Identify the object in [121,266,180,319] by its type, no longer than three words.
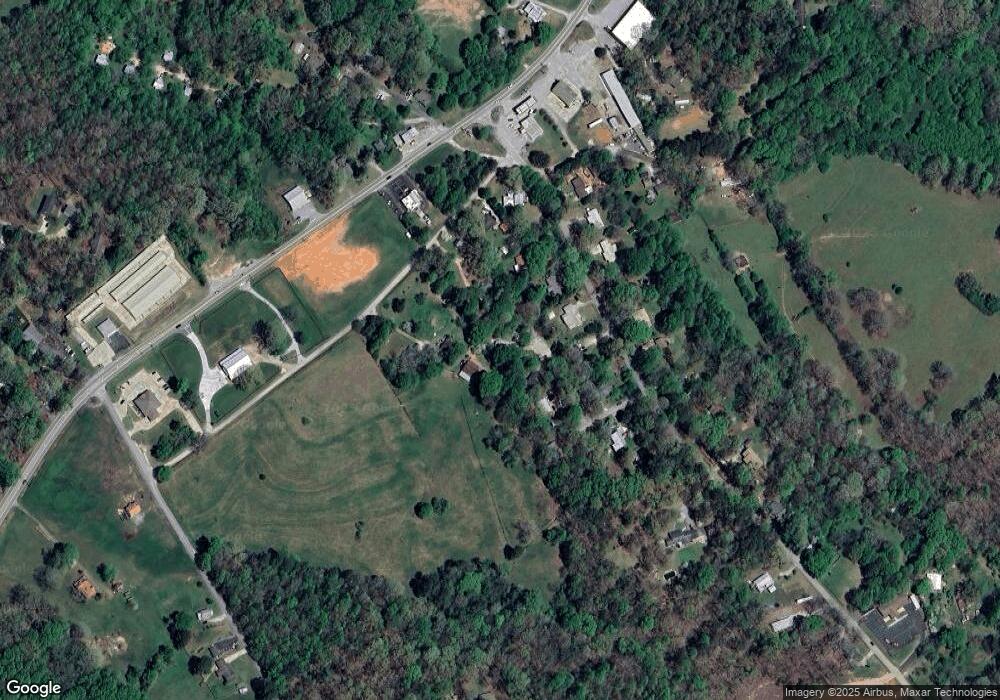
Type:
building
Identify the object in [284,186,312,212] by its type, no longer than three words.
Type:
building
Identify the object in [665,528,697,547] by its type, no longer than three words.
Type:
house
